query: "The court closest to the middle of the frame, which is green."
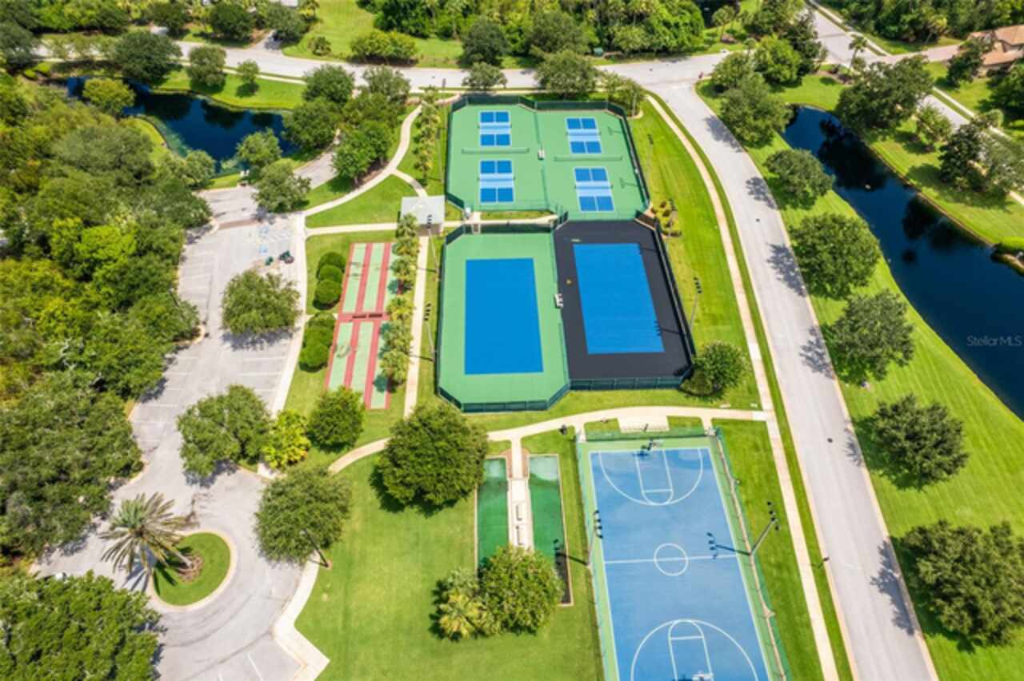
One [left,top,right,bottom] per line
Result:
[439,232,569,412]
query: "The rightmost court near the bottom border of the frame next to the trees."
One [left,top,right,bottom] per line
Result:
[577,438,783,681]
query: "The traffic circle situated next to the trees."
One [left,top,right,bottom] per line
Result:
[148,529,236,612]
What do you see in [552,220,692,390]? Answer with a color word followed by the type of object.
blue tennis court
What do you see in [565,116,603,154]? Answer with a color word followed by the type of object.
blue sports court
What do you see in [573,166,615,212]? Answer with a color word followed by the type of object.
blue sports court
